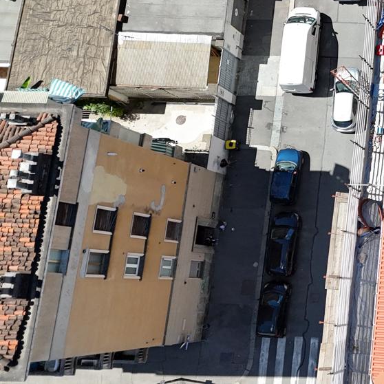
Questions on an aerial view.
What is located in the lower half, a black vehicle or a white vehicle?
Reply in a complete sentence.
The feature located in the lower half is a black vehicle.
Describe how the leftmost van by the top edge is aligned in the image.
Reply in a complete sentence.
The leftmost van by the top edge has been laid out vertically relative to the frame.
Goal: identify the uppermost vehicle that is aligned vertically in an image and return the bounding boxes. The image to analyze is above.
[280,8,324,93]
